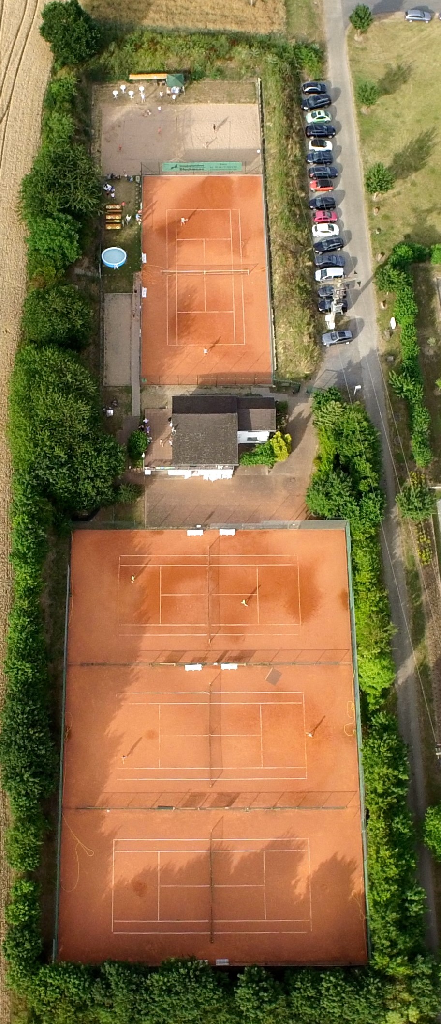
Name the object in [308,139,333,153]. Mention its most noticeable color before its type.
white car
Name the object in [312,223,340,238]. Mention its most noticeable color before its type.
white car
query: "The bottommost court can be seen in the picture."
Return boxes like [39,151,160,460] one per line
[55,808,373,967]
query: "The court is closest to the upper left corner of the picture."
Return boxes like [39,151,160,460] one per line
[101,102,263,174]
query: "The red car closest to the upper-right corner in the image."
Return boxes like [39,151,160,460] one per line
[309,179,334,193]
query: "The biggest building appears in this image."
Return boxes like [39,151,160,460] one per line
[145,395,278,480]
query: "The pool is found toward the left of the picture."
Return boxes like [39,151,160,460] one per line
[101,246,127,272]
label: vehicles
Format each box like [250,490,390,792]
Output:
[309,179,334,193]
[321,331,354,347]
[308,139,333,153]
[302,93,333,112]
[309,197,337,211]
[306,111,332,125]
[306,151,333,166]
[405,9,432,24]
[308,165,338,181]
[317,285,347,300]
[315,267,345,283]
[315,254,345,269]
[314,210,338,225]
[302,82,327,95]
[306,123,336,139]
[312,223,340,238]
[314,237,345,255]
